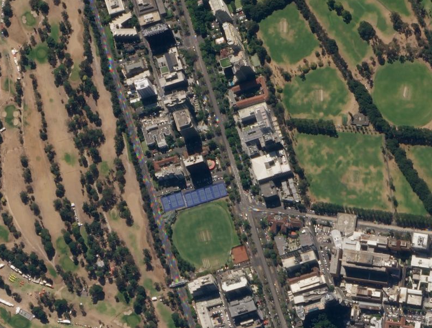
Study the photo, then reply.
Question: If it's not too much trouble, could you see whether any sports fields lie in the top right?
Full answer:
Yes, the scene does show a sports field in the top right.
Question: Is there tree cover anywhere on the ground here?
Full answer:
Yes, tree cover shows up in the scene.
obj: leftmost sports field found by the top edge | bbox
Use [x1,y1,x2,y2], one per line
[261,4,317,64]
